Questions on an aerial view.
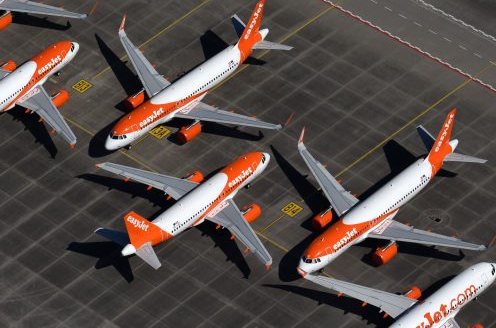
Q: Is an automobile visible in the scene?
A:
No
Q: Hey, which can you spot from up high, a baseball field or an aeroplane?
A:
aeroplane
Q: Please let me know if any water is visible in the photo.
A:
No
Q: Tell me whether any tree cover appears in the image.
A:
No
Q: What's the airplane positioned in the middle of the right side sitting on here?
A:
apron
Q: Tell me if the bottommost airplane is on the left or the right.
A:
right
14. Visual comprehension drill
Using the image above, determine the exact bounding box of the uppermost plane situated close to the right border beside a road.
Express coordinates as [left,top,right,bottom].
[298,108,496,273]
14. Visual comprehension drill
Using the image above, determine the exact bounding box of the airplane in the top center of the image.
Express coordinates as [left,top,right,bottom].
[104,0,294,149]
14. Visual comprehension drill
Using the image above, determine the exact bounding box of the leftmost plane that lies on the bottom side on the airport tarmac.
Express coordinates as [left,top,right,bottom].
[94,154,273,271]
